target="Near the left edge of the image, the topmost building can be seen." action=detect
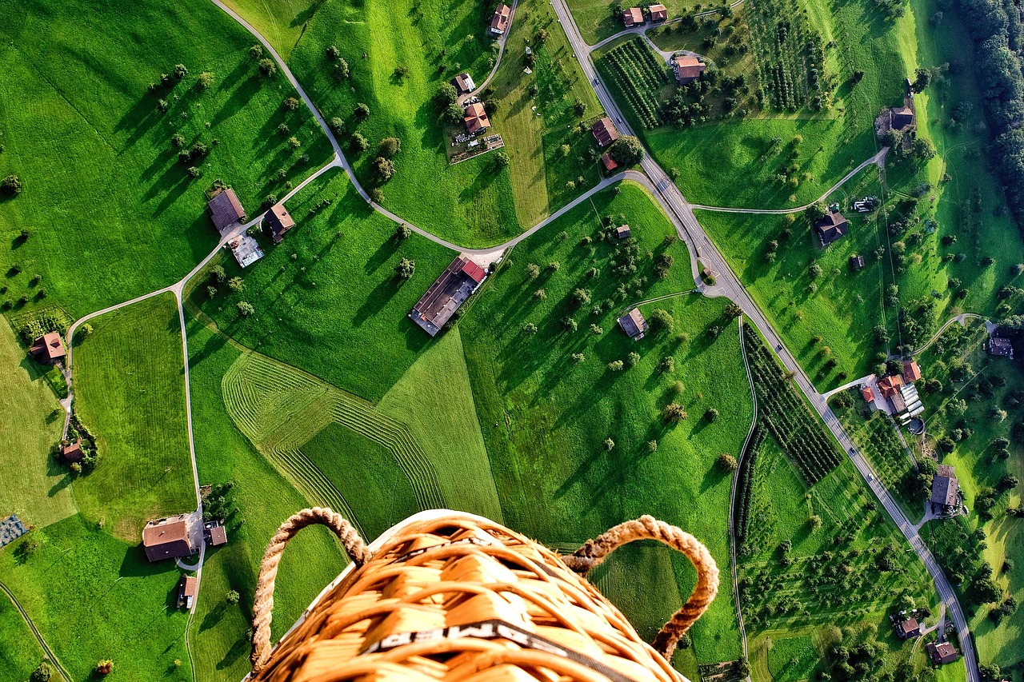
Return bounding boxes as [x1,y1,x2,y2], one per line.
[28,331,67,362]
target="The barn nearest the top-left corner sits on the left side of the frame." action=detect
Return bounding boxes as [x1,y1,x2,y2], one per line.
[206,188,247,233]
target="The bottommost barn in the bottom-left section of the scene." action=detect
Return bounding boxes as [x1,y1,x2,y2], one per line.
[180,575,199,598]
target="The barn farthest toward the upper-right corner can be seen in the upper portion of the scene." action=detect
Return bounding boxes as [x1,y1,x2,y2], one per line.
[888,106,918,130]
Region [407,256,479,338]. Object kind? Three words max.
barn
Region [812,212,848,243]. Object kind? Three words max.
house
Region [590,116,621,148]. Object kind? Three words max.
barn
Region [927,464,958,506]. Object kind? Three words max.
house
